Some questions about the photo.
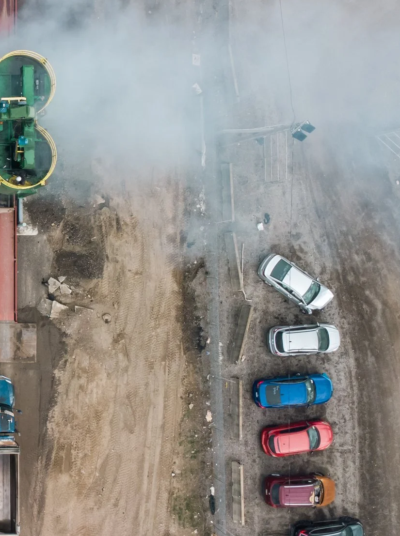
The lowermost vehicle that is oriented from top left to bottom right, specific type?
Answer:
automobile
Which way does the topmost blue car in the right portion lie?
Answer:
horizontally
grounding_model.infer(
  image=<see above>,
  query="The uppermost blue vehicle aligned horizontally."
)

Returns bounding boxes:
[249,372,333,408]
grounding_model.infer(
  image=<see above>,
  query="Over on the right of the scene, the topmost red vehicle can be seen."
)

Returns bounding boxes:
[257,418,333,456]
